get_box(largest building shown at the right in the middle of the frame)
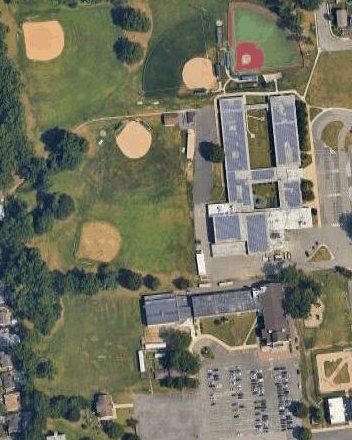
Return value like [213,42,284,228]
[209,95,314,258]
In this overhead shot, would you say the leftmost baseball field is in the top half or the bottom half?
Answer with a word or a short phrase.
top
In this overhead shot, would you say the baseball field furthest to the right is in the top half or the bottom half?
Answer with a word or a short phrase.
top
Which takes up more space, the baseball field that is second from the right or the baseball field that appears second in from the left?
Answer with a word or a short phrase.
the baseball field that is second from the right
